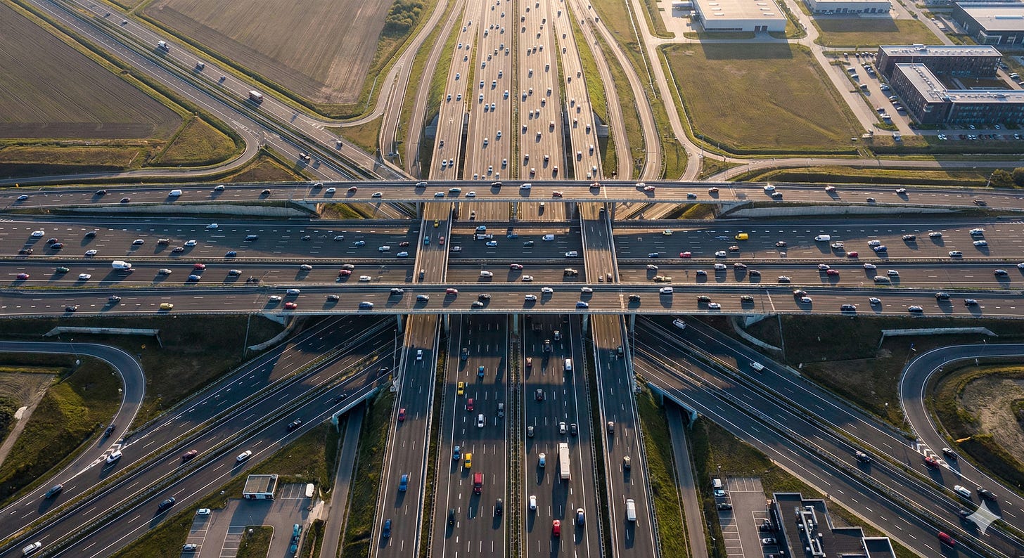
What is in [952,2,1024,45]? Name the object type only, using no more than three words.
building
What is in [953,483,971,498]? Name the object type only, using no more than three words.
car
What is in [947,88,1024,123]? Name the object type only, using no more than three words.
building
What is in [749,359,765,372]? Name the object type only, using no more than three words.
vehicle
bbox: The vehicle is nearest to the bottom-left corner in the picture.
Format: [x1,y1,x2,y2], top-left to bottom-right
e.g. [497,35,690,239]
[22,541,42,556]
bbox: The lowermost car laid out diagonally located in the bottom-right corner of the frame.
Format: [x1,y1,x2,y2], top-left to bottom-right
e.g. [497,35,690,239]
[937,531,957,546]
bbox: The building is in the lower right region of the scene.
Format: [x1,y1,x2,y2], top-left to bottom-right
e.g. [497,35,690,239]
[769,492,897,558]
